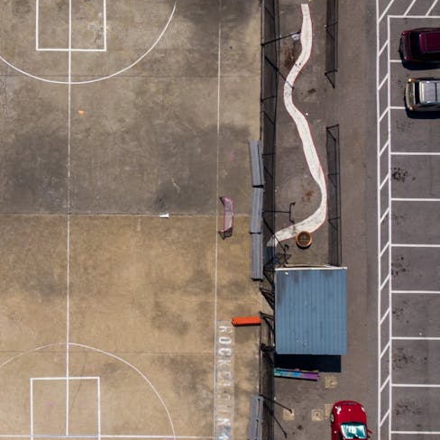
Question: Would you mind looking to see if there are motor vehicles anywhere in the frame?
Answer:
Yes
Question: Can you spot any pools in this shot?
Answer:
No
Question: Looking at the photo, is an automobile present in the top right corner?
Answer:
Yes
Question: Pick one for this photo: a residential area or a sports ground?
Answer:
sports ground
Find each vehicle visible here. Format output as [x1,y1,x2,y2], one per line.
[398,28,440,66]
[403,76,440,112]
[330,399,375,440]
